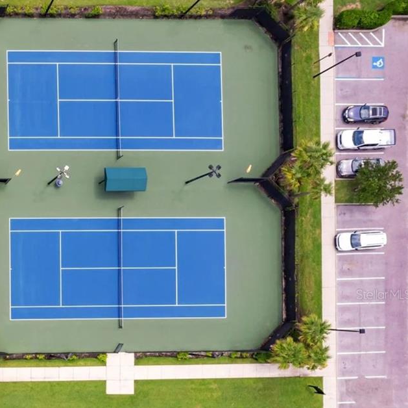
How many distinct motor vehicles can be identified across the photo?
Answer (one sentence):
Altogether the scene contains 4 motor vehicles.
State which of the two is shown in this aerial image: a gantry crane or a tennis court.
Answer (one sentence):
This aerial view contains a tennis court.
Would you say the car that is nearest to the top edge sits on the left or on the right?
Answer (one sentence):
The car that is nearest to the top edge is on the right side of the image.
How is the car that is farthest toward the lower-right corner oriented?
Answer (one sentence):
The car that is farthest toward the lower-right corner runs from left to right in the image.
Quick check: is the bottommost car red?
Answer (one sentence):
No, the bottommost car is actually white.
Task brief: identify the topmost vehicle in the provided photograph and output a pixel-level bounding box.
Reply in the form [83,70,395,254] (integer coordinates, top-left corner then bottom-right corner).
[341,103,390,125]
